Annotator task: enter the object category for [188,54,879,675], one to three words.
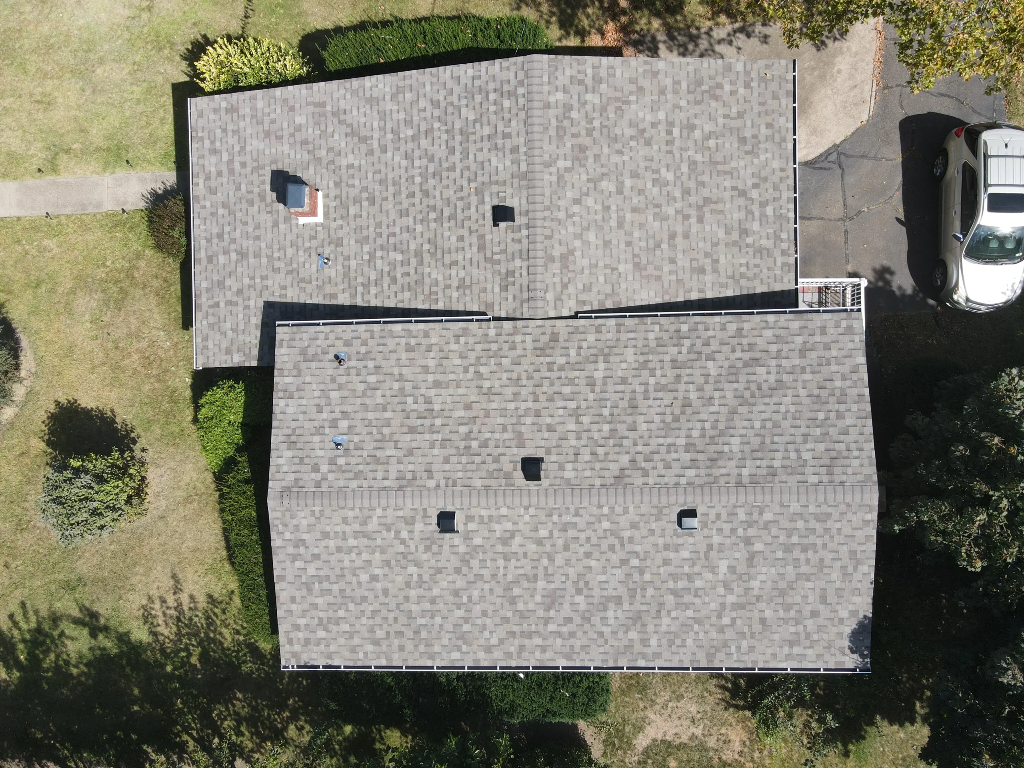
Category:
house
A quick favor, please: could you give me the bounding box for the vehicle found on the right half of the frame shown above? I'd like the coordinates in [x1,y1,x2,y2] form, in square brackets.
[930,117,1024,316]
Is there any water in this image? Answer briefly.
No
